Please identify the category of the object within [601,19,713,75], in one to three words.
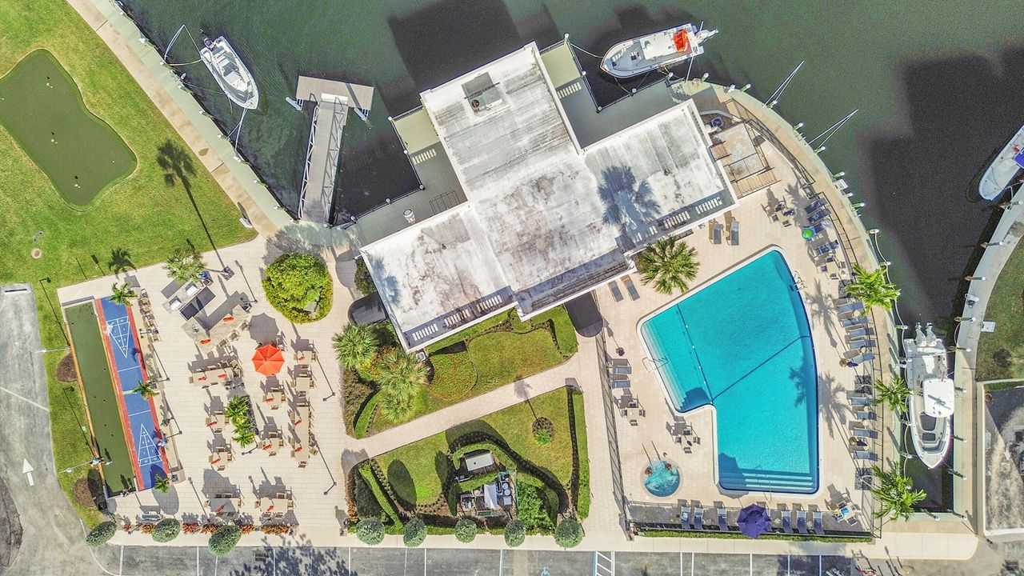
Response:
boat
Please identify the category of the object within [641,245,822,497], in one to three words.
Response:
swimming pool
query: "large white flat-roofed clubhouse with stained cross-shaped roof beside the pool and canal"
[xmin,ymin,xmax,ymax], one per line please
[359,43,738,353]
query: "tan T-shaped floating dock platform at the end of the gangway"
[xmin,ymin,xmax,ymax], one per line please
[286,76,376,121]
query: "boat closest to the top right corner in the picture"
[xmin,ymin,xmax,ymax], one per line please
[981,119,1024,201]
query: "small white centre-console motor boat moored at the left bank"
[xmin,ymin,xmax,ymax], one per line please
[200,35,260,109]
